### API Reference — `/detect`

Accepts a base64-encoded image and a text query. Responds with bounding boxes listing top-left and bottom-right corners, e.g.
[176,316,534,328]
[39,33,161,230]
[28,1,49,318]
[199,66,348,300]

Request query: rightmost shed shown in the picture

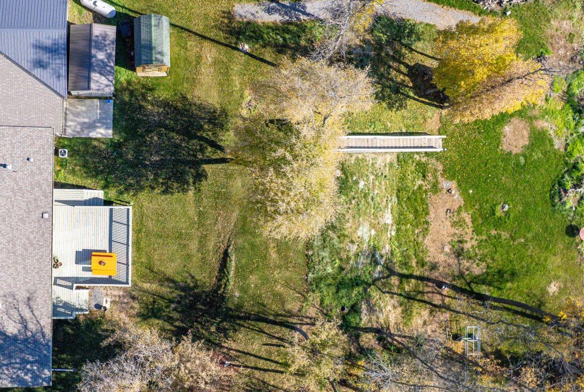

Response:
[133,14,170,77]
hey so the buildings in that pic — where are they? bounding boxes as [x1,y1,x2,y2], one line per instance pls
[133,14,170,77]
[70,23,115,97]
[0,49,76,388]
